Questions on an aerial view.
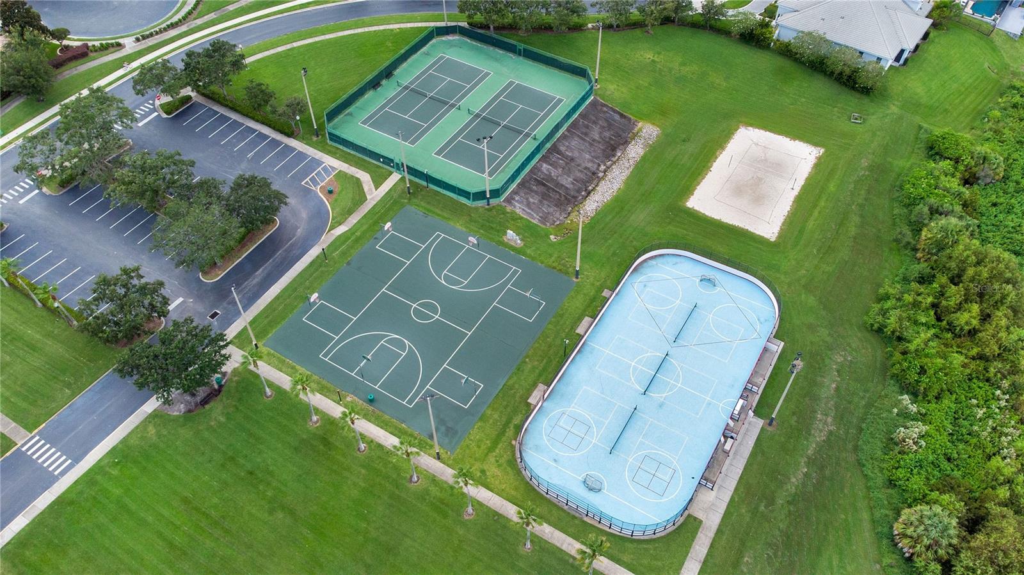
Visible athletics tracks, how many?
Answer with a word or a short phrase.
0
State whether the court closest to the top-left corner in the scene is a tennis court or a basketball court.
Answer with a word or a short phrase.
tennis court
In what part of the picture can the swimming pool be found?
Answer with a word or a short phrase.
top right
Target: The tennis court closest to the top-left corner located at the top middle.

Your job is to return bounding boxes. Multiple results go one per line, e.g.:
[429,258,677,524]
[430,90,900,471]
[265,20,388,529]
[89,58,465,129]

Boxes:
[360,53,491,146]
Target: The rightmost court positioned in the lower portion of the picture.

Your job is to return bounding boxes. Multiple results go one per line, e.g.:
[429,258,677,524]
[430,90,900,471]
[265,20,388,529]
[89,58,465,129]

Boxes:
[518,240,786,533]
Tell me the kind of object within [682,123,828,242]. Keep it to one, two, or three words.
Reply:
sports court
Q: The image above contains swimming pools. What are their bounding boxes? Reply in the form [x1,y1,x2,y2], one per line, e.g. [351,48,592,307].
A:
[967,0,1012,20]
